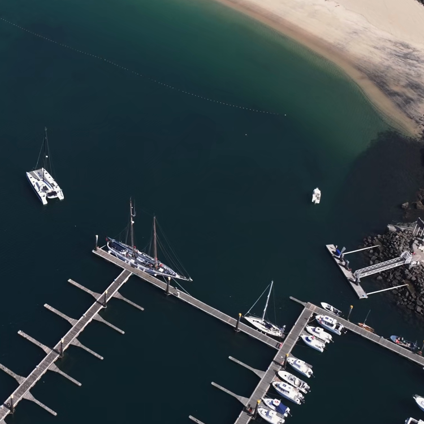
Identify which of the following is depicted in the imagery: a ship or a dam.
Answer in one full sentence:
The image shows a ship.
